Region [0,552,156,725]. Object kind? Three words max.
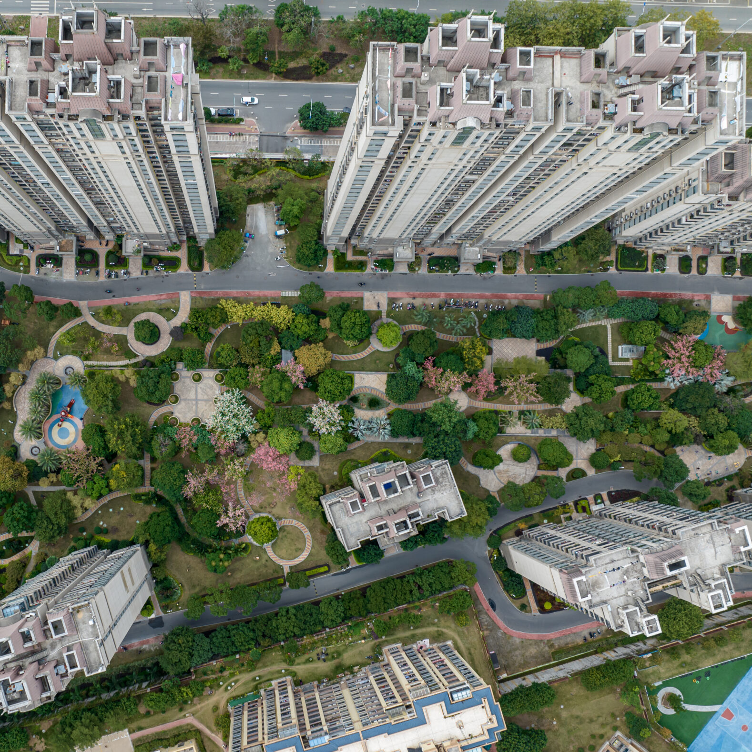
building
